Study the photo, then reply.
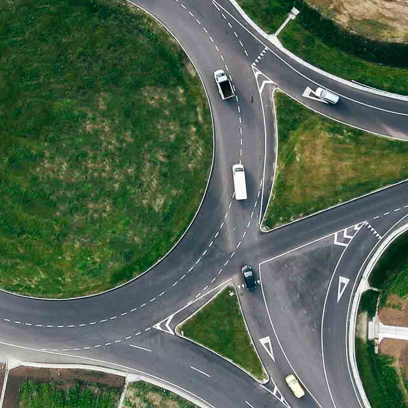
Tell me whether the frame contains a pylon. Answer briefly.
No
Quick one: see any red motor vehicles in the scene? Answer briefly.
No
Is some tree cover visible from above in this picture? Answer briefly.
No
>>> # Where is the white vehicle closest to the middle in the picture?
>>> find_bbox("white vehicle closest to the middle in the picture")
[231,164,246,200]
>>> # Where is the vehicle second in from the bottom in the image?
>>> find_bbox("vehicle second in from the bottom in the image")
[241,264,256,290]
